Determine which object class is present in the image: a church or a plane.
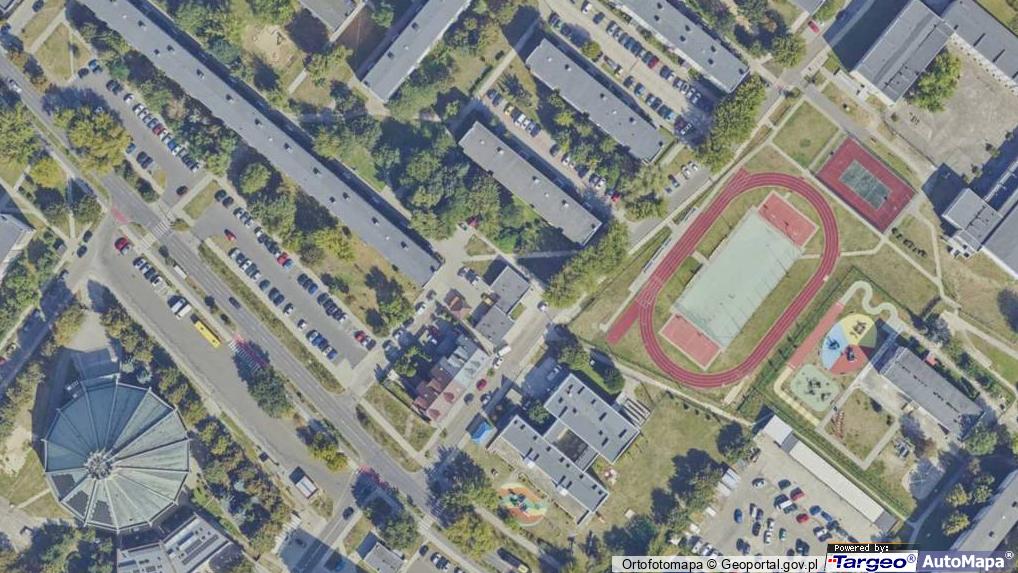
church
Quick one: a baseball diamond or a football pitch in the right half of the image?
football pitch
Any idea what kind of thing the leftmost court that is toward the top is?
basketball court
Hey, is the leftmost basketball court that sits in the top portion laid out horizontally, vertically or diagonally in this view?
diagonally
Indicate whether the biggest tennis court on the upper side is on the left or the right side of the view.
right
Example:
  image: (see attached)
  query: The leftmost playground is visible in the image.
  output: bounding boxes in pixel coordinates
[498,482,547,525]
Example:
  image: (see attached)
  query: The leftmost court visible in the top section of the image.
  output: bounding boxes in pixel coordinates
[756,189,820,249]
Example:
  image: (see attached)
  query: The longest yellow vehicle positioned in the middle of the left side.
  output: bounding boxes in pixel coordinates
[193,319,223,349]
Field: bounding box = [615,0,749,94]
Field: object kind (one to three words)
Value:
building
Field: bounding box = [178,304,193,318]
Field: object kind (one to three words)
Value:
vehicle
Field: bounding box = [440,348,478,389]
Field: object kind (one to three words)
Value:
house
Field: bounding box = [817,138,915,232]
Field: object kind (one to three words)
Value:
tennis court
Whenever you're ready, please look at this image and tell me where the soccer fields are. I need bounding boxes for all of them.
[668,204,807,353]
